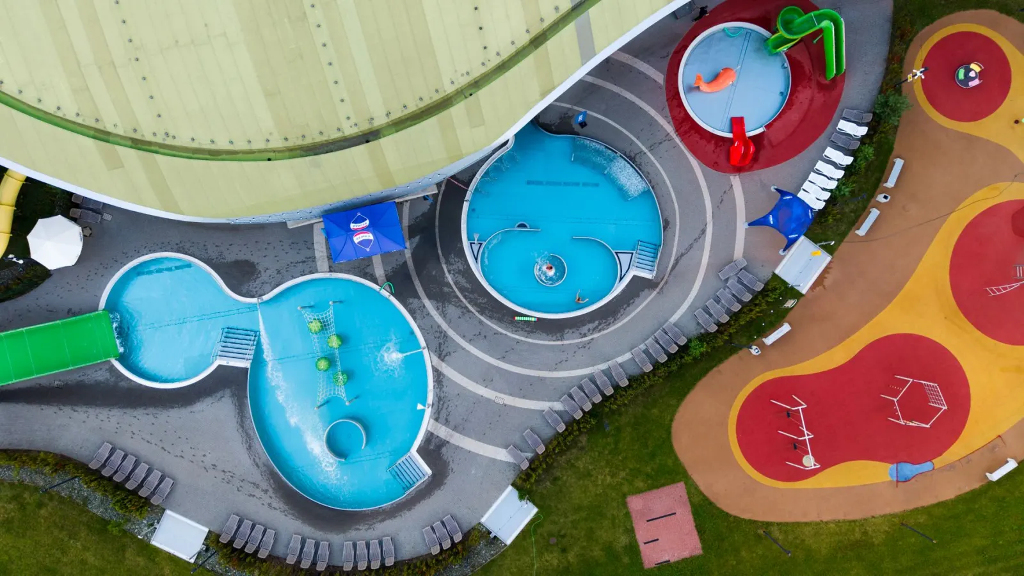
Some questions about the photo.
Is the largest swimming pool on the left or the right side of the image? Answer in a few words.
left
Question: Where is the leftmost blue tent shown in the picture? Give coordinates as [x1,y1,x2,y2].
[323,201,412,265]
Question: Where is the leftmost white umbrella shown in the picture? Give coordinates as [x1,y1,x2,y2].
[27,215,85,270]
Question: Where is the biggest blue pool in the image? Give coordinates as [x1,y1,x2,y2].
[100,252,434,511]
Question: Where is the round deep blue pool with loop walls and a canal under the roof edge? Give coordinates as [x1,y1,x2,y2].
[461,117,664,319]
